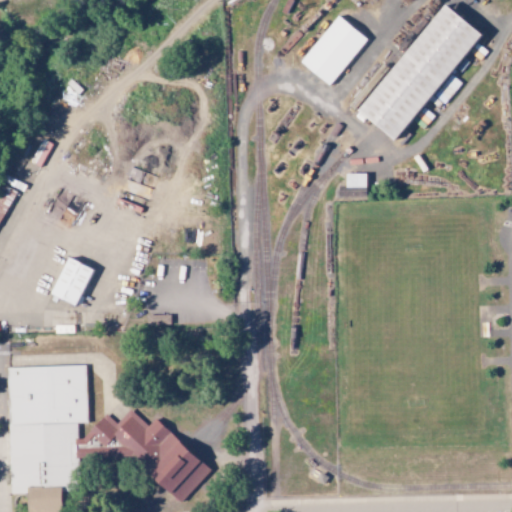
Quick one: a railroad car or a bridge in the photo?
railroad car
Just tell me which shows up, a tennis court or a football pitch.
football pitch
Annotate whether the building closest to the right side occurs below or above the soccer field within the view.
above it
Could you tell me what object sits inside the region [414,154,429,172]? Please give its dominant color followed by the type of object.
white camper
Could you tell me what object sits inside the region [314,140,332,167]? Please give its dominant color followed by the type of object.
gray rail car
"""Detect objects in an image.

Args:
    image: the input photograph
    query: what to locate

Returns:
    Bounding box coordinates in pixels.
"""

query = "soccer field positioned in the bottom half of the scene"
[324,180,508,460]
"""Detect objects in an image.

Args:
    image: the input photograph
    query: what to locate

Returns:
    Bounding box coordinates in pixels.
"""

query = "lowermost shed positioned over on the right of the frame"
[338,173,368,197]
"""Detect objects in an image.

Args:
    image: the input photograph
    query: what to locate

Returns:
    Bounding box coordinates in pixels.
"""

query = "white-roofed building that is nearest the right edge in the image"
[358,4,482,140]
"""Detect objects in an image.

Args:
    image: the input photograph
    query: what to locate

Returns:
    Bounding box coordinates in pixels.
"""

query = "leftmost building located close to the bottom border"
[8,364,90,512]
